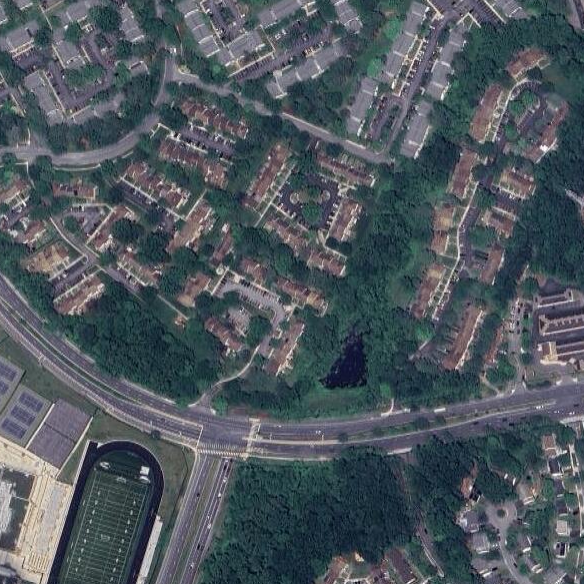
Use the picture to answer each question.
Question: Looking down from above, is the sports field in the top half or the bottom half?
bottom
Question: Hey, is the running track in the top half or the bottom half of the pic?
bottom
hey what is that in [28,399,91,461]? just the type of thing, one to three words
sports court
